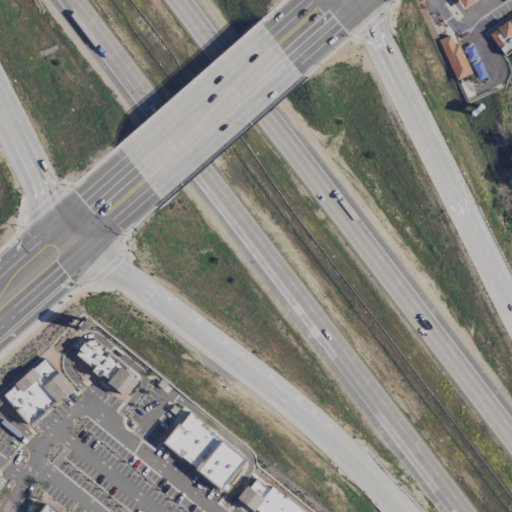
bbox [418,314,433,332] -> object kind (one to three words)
vehicle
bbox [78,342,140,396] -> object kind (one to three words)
building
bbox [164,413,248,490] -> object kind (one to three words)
building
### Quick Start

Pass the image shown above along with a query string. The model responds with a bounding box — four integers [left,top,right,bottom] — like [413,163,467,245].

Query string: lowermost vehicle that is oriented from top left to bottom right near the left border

[1,420,28,442]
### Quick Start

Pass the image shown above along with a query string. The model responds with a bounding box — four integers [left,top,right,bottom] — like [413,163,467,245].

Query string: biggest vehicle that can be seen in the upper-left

[77,22,106,58]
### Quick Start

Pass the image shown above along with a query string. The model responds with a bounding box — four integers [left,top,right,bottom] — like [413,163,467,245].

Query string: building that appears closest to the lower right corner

[240,480,305,512]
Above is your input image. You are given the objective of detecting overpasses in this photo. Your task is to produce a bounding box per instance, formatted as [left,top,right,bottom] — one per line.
[117,19,308,212]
